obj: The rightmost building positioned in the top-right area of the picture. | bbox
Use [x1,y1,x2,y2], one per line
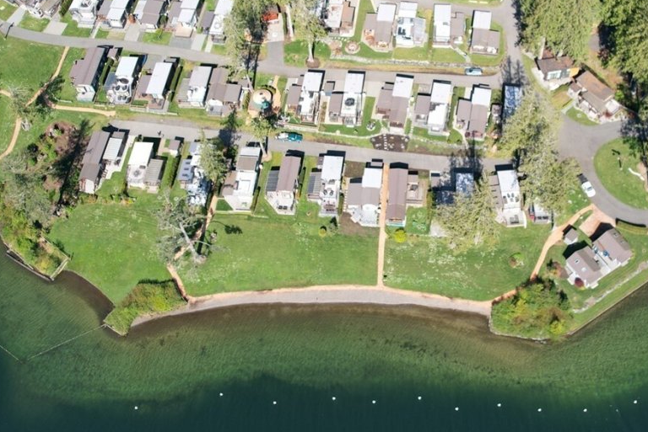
[566,70,623,121]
